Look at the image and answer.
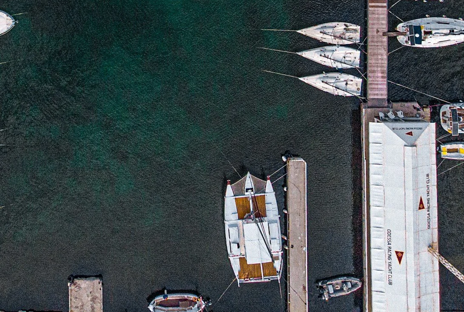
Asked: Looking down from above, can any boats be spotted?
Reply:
Yes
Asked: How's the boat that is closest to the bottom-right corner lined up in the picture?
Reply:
horizontally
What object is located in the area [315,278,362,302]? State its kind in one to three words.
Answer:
boat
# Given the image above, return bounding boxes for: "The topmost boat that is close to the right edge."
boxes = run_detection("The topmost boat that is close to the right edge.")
[393,16,464,47]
